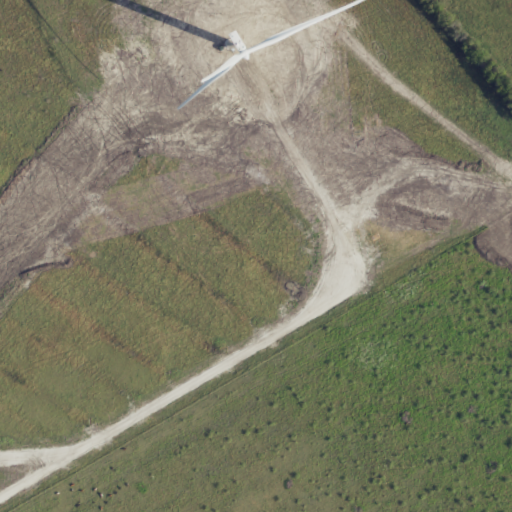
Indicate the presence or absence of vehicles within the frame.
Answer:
No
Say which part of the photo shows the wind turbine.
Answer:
top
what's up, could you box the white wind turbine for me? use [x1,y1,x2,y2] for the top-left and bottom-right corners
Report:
[180,0,368,107]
